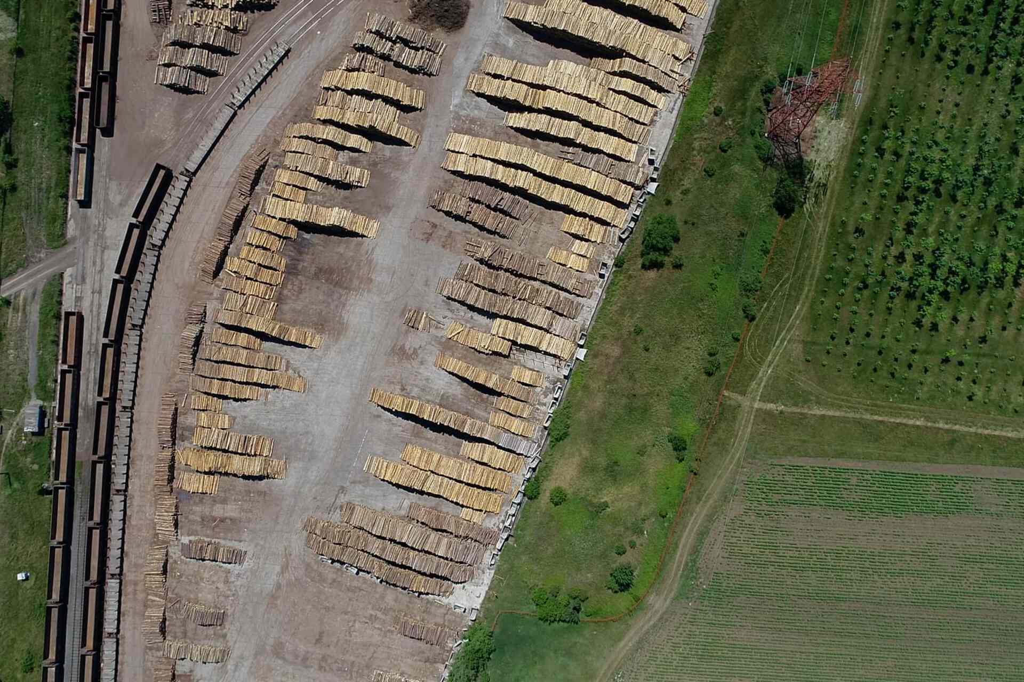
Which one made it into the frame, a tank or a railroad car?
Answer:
railroad car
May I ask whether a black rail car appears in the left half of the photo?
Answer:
Yes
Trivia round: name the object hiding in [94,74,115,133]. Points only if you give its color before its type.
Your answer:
black rail car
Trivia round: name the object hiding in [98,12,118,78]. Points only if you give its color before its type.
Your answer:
black rail car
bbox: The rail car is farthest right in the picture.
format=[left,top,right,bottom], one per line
[229,40,291,108]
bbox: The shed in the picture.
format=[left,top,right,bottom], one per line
[24,404,47,432]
